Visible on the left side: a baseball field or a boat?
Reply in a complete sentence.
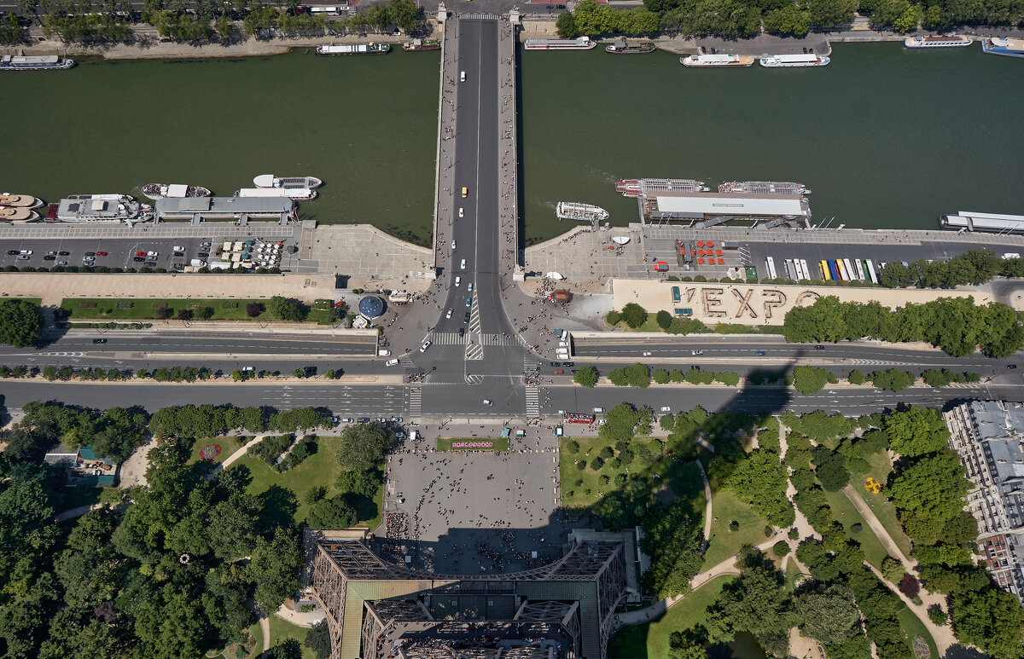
You can see a boat on the left side.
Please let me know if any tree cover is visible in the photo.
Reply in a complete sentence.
Yes, tree cover can be seen from above here.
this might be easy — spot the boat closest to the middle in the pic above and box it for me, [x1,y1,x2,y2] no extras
[556,202,610,222]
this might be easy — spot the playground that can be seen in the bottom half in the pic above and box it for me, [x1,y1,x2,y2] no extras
[787,627,825,659]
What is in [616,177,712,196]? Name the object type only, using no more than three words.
boat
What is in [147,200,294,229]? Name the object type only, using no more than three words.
pier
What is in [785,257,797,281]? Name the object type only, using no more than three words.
vehicle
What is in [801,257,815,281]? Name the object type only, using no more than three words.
vehicle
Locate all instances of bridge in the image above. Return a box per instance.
[433,19,523,272]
